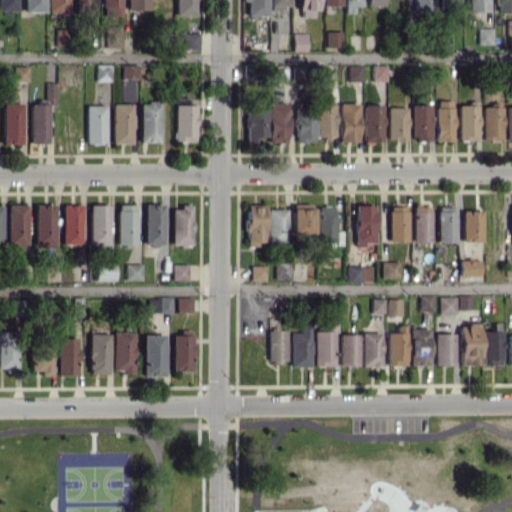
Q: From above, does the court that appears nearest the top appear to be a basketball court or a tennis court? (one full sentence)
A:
The court that appears nearest the top appears to be a basketball court.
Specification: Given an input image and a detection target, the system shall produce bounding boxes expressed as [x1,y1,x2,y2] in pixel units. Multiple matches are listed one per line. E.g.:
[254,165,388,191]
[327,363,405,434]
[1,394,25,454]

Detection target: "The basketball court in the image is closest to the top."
[58,453,132,505]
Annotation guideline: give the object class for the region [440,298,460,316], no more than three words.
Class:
building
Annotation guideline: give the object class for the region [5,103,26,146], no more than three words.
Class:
house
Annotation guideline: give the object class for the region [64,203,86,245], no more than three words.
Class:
house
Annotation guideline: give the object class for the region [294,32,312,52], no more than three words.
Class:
building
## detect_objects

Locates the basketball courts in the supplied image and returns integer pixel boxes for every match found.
[58,453,132,505]
[58,505,132,512]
